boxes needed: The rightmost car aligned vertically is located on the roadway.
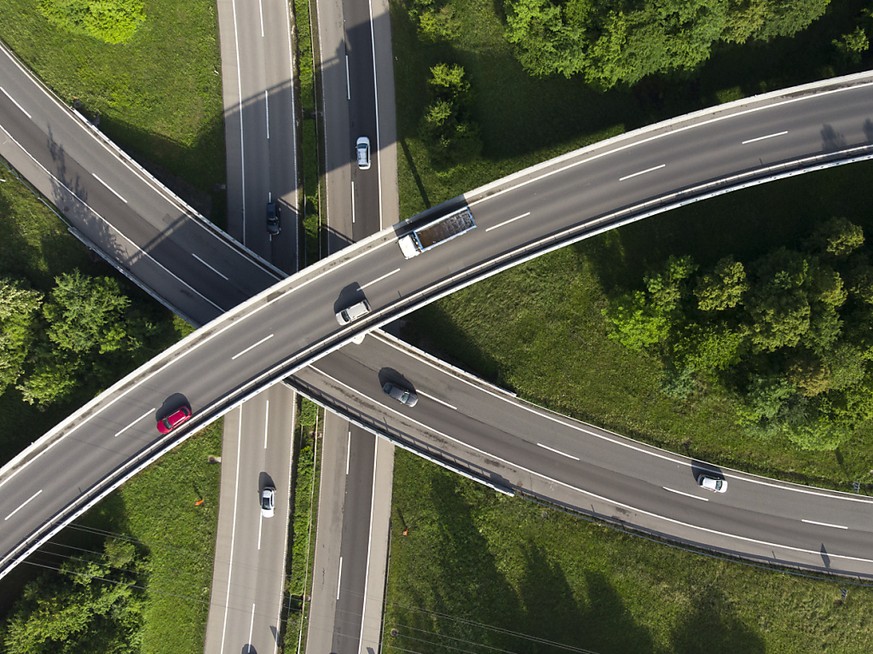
[355,136,370,170]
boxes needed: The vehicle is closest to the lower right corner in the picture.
[697,472,728,492]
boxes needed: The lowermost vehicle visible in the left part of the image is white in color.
[259,487,276,518]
